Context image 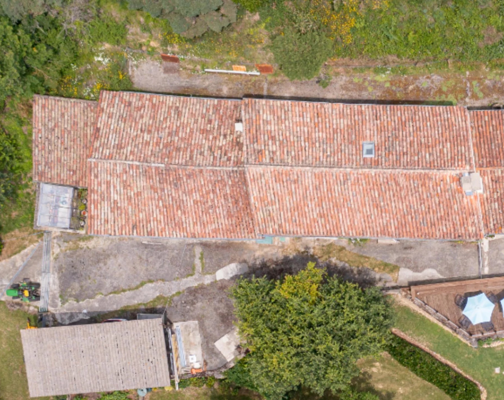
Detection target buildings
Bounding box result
[20,318,176,398]
[32,88,504,245]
